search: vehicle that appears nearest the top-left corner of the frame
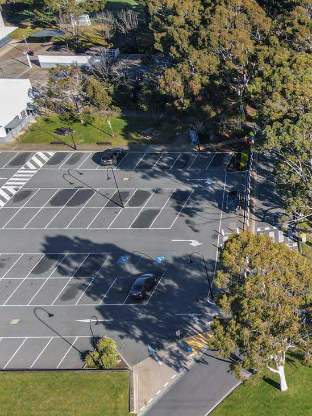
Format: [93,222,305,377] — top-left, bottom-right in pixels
[100,146,126,164]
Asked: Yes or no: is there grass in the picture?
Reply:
Yes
